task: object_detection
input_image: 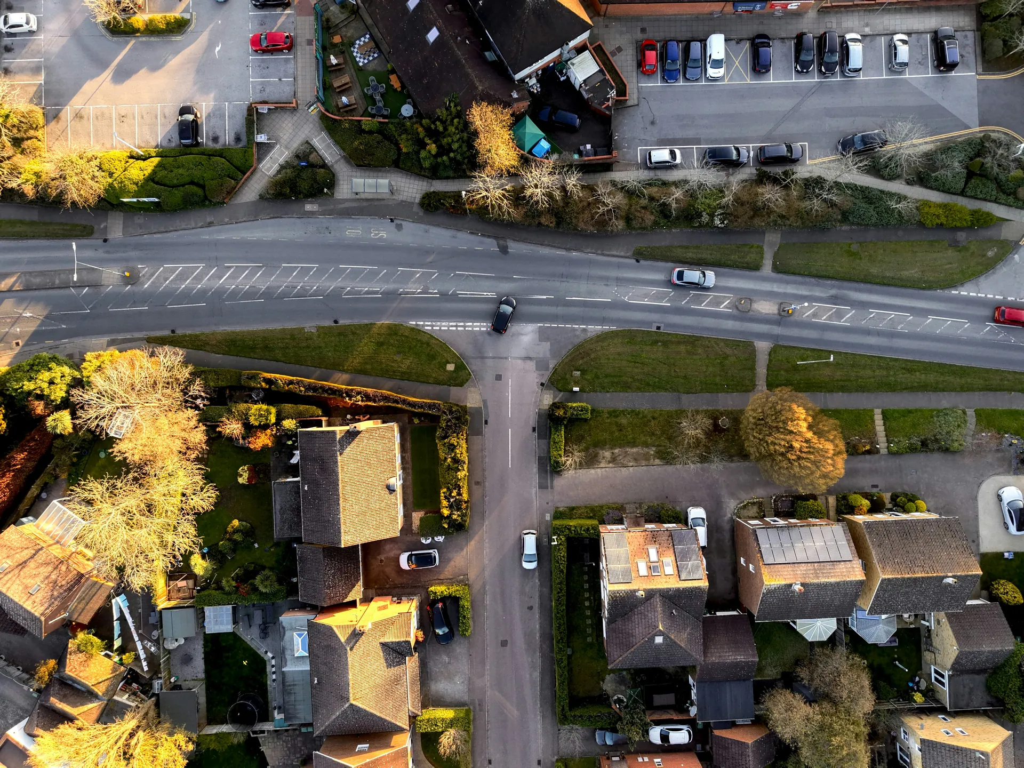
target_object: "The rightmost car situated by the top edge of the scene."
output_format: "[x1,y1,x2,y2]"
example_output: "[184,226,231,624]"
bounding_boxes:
[932,27,959,73]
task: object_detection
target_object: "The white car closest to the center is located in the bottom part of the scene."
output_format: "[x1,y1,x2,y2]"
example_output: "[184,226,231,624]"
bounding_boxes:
[519,529,539,570]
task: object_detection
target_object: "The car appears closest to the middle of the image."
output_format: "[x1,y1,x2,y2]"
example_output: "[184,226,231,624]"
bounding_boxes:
[490,295,517,337]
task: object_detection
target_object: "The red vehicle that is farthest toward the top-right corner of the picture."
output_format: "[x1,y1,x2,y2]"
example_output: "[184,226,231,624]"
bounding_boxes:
[990,306,1024,327]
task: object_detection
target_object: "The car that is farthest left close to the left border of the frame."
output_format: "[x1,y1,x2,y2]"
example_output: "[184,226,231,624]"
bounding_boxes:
[0,11,39,34]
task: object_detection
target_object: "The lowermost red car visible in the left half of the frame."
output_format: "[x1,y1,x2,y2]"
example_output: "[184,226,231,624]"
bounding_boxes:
[252,31,294,54]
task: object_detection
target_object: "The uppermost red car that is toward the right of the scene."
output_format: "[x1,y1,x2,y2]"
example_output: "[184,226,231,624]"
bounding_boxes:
[639,40,659,77]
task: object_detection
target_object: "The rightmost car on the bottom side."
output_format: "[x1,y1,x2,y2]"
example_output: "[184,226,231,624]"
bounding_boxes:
[995,488,1024,535]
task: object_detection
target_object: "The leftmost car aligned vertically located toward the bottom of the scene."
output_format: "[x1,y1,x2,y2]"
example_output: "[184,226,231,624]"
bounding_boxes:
[429,598,455,644]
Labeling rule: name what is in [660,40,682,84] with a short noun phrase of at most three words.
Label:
car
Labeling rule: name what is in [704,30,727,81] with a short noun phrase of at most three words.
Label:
vehicle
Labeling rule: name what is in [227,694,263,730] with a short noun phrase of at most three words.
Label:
trampoline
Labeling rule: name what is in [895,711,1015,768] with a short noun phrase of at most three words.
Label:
house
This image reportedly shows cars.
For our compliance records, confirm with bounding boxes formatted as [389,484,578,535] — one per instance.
[429,598,455,644]
[176,105,200,148]
[836,128,887,157]
[592,726,630,750]
[793,32,816,76]
[648,723,693,748]
[886,33,910,73]
[816,30,839,77]
[519,529,539,570]
[703,144,748,167]
[0,11,39,34]
[757,142,801,164]
[400,549,439,571]
[251,0,292,13]
[639,40,659,77]
[669,267,714,289]
[995,488,1024,535]
[660,40,682,84]
[687,506,710,550]
[990,306,1024,327]
[932,27,959,73]
[252,31,294,54]
[840,34,864,78]
[750,35,773,76]
[536,104,582,134]
[682,41,704,82]
[645,147,681,168]
[490,295,517,337]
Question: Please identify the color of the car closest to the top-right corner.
black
